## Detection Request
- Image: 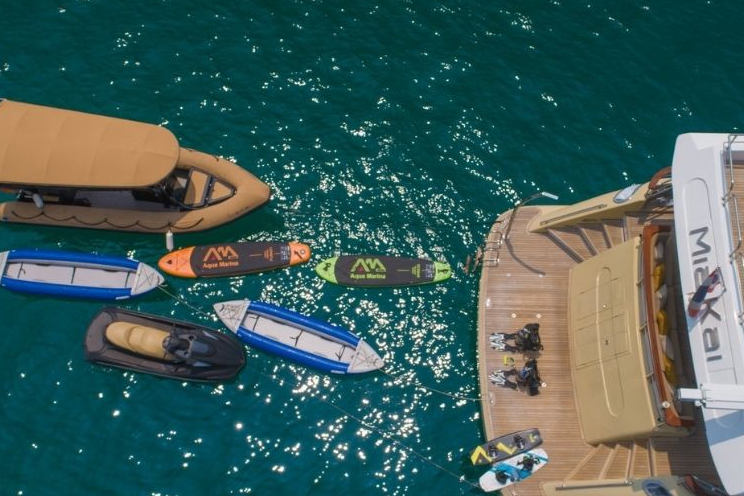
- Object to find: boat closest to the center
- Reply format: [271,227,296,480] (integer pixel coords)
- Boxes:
[214,298,383,370]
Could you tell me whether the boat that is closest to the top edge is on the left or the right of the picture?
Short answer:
left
